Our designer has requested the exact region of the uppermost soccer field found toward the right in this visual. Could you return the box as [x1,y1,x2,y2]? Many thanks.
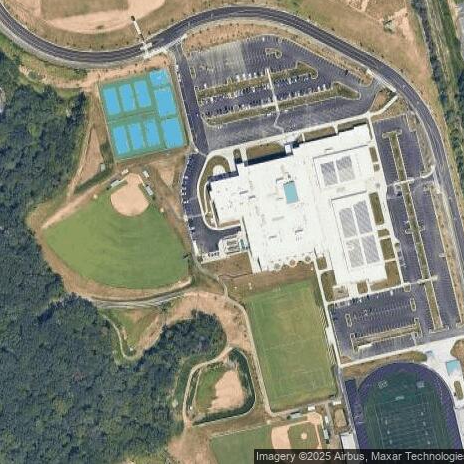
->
[249,285,337,410]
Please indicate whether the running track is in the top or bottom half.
bottom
